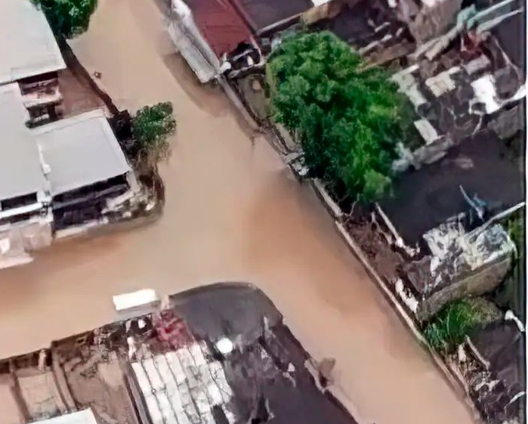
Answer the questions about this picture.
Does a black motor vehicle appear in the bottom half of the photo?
No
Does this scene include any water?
Yes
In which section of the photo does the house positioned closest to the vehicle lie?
bottom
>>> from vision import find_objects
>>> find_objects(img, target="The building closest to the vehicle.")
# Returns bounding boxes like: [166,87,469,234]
[171,282,283,389]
